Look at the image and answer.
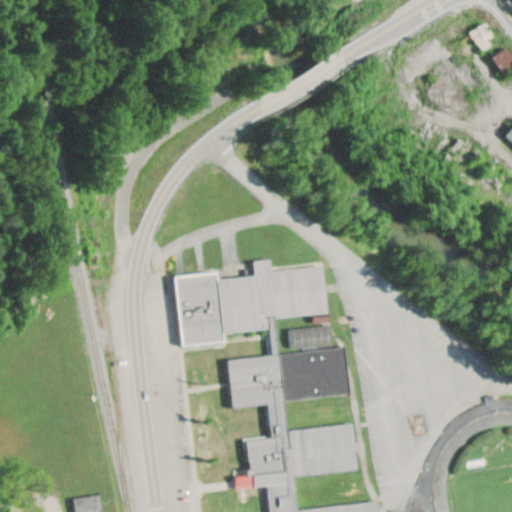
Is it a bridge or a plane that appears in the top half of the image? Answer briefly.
bridge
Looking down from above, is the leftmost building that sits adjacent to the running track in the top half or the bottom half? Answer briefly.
bottom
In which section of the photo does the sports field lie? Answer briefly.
bottom right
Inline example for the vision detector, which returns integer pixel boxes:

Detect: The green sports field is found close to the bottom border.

[447,425,512,512]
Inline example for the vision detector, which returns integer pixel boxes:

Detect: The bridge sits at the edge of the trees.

[276,50,349,104]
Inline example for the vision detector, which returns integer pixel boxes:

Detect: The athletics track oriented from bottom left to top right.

[406,398,512,512]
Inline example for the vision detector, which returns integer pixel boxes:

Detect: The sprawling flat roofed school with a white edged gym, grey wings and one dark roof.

[174,259,378,512]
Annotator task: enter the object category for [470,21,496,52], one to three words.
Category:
house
